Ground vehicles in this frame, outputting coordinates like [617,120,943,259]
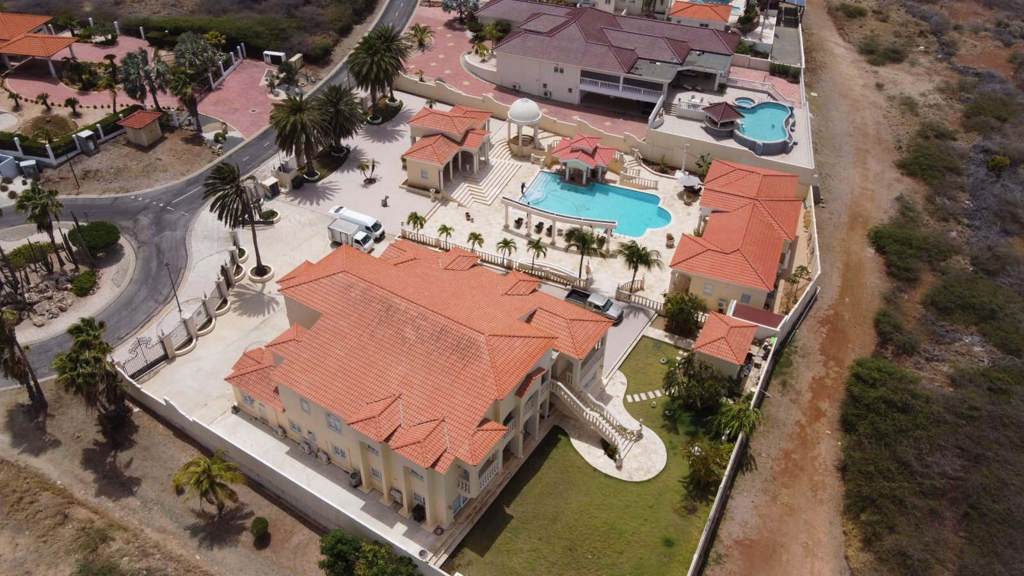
[563,292,625,326]
[331,207,388,244]
[326,218,375,255]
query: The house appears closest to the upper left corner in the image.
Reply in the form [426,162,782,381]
[0,10,53,41]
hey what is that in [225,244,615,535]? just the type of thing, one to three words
house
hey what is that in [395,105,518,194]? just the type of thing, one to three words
building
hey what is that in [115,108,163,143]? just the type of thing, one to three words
shed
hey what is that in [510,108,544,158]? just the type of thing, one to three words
gazebo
